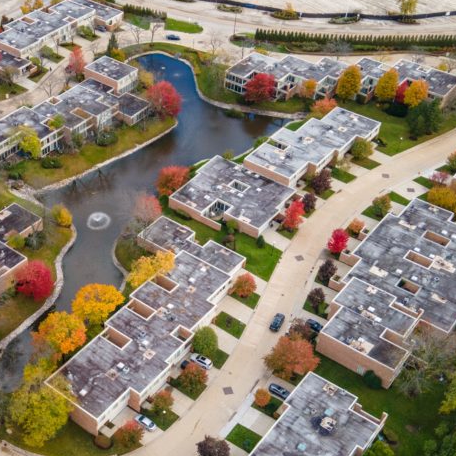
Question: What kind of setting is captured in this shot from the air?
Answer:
residential area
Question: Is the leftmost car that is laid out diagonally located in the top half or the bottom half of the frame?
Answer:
bottom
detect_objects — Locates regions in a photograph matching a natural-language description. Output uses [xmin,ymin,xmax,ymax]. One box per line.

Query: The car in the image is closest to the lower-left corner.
[133,413,158,433]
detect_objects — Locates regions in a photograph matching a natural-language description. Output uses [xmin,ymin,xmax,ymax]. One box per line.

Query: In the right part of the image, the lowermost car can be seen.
[267,382,292,400]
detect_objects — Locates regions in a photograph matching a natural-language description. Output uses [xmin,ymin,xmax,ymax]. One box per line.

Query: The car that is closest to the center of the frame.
[271,312,284,331]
